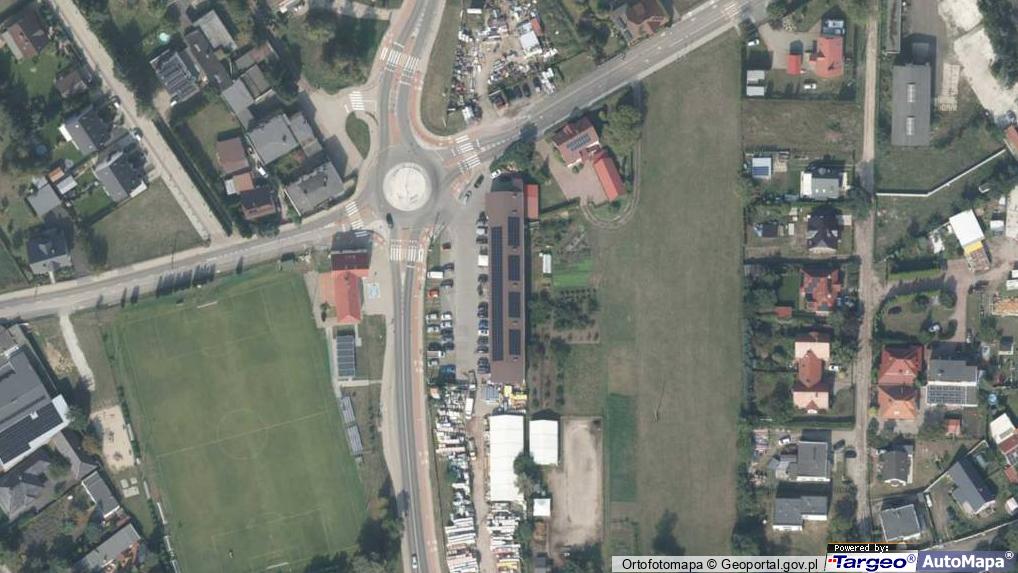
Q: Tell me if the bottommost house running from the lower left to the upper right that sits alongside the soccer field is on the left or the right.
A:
left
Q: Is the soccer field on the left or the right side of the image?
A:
left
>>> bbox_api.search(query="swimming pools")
[159,31,169,43]
[988,393,998,404]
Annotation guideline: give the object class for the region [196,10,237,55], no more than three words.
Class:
shed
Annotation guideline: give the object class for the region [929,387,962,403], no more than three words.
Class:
solar array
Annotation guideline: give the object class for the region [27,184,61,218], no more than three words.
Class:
building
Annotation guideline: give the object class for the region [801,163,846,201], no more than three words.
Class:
house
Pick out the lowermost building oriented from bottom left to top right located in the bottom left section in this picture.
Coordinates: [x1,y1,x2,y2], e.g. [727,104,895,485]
[70,523,141,573]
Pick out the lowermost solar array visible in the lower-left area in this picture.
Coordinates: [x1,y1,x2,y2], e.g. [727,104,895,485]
[0,403,61,462]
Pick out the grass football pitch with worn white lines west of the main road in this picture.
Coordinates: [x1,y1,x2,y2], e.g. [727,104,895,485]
[110,267,370,573]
